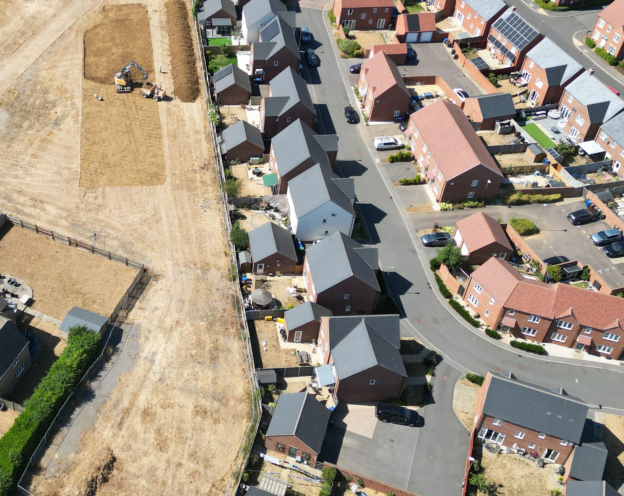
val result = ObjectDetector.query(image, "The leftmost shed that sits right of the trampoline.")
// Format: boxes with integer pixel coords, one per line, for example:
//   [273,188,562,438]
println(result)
[57,303,104,344]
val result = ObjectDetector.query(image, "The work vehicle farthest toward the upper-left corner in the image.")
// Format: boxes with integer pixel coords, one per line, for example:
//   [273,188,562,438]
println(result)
[115,51,144,89]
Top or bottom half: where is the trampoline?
bottom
